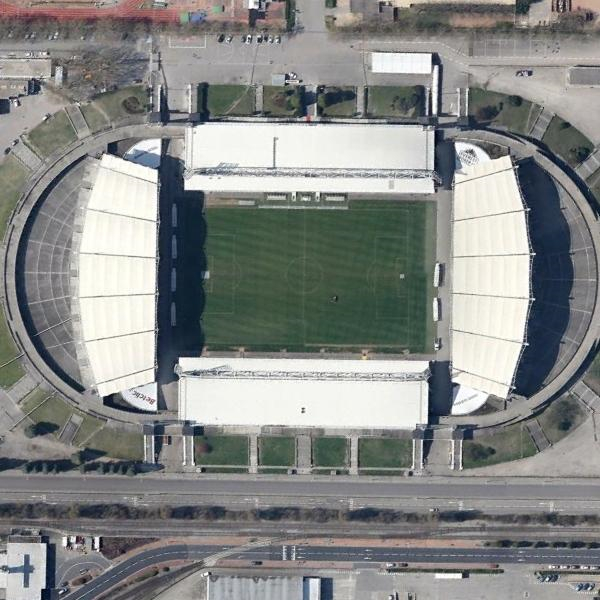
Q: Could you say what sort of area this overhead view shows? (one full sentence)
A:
This looks like a sports ground.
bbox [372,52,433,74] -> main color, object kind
white tent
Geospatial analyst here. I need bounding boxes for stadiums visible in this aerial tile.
[2,84,600,469]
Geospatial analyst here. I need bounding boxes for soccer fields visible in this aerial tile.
[182,193,437,357]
